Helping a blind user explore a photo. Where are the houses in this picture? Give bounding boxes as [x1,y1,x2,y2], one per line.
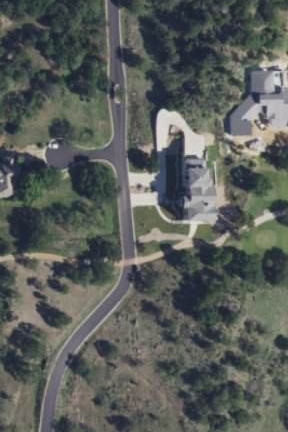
[230,71,288,136]
[184,160,218,223]
[0,156,14,198]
